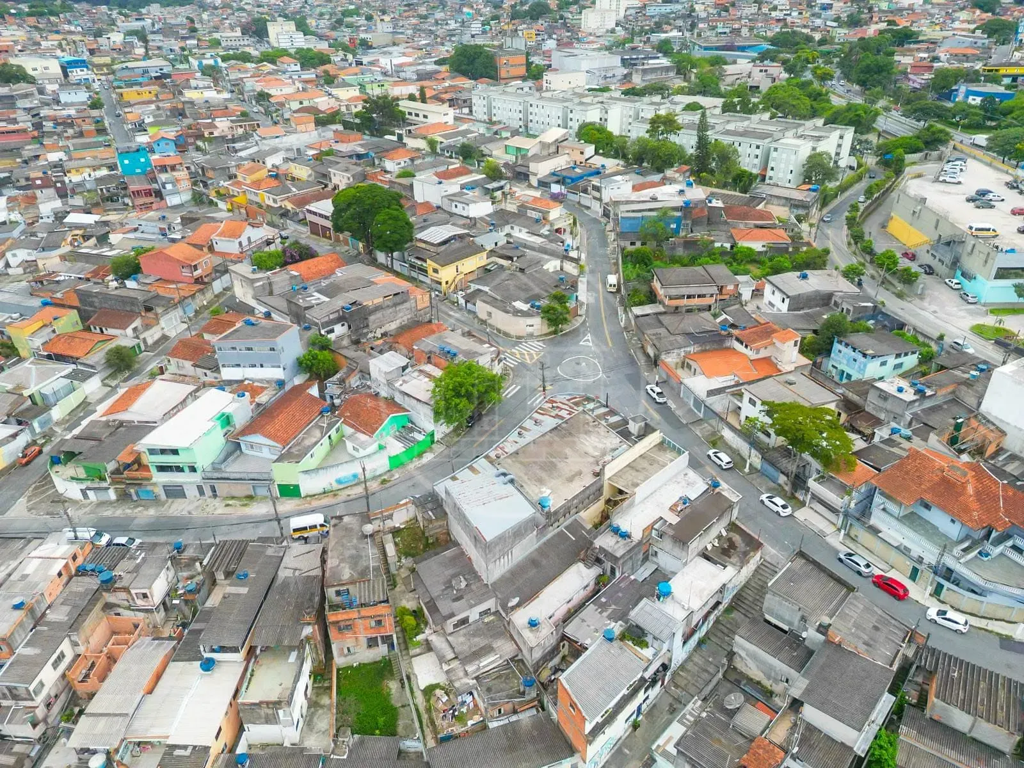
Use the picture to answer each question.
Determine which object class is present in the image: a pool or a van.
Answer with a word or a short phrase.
van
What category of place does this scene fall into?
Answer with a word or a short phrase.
residential area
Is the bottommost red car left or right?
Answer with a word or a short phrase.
right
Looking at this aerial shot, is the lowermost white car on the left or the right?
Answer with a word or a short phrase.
right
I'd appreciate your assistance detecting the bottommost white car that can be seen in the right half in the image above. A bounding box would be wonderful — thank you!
[924,605,973,635]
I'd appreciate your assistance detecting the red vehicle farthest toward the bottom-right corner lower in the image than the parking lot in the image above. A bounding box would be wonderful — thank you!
[872,575,917,606]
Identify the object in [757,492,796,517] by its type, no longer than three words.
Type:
car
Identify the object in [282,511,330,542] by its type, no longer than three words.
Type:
van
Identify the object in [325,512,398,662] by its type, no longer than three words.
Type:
house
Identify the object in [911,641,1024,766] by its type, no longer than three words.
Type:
house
